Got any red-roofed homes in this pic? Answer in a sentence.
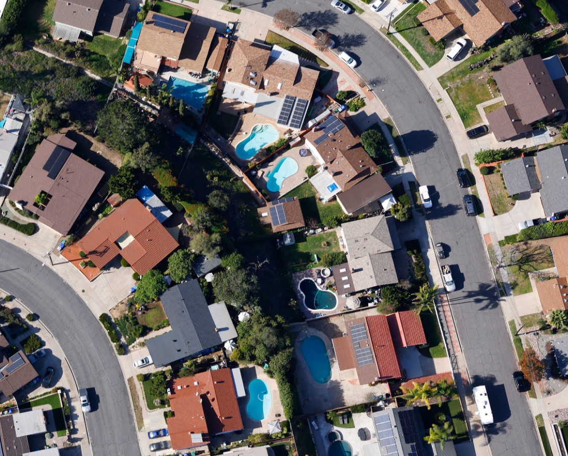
Yes, a red-roofed home can be made out from above.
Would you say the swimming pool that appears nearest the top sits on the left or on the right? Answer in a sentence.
The swimming pool that appears nearest the top sits on the left side.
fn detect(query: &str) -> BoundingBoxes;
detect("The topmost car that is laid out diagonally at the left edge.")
[28,349,47,364]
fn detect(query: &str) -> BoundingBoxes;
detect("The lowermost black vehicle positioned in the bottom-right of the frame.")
[512,372,526,393]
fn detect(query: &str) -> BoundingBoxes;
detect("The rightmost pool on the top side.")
[265,155,300,198]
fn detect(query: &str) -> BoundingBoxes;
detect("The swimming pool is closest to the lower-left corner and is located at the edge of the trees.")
[244,377,274,422]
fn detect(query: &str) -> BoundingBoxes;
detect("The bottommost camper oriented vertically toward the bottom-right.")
[471,386,494,426]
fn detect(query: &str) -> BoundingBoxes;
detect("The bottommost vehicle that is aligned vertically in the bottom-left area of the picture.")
[79,389,92,413]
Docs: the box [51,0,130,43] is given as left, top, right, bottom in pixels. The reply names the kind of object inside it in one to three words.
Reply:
house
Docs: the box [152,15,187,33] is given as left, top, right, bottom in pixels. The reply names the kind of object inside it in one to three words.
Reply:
solar array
